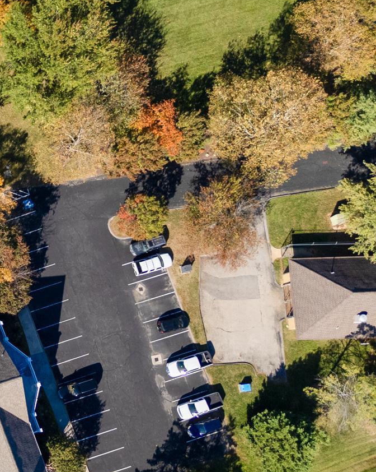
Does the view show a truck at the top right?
No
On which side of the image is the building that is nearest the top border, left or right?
right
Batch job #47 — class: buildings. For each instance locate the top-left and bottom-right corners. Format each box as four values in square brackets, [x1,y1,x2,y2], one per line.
[289,257,376,340]
[0,322,47,472]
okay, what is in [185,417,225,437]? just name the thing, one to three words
vehicle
